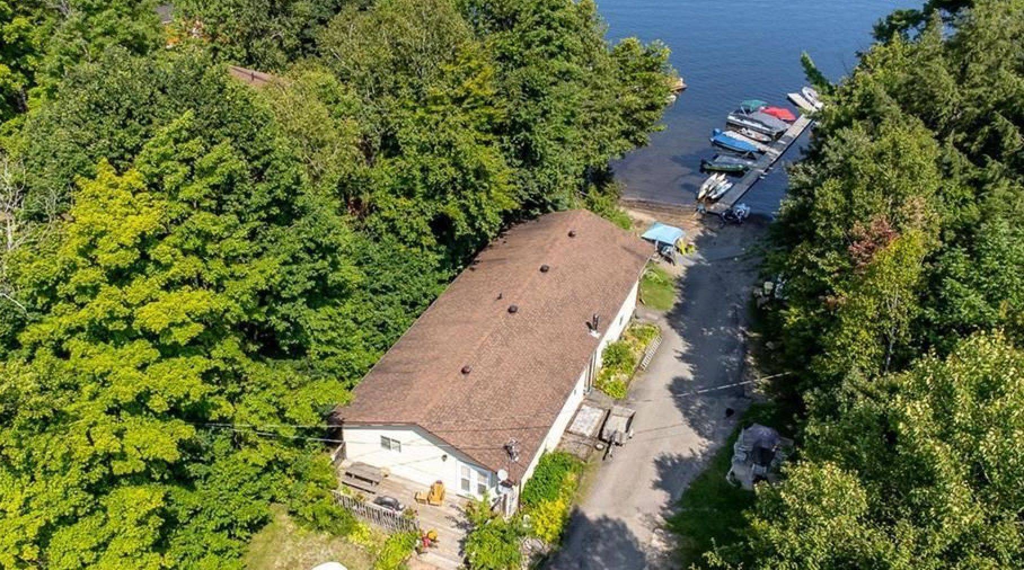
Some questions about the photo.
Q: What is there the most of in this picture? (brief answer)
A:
trees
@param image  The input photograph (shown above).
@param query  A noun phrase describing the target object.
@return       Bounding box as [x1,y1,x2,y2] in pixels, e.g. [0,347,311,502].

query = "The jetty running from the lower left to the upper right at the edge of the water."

[708,110,821,224]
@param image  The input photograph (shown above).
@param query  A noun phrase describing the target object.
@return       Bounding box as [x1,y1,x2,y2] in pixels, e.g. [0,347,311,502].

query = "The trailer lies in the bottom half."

[595,408,639,465]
